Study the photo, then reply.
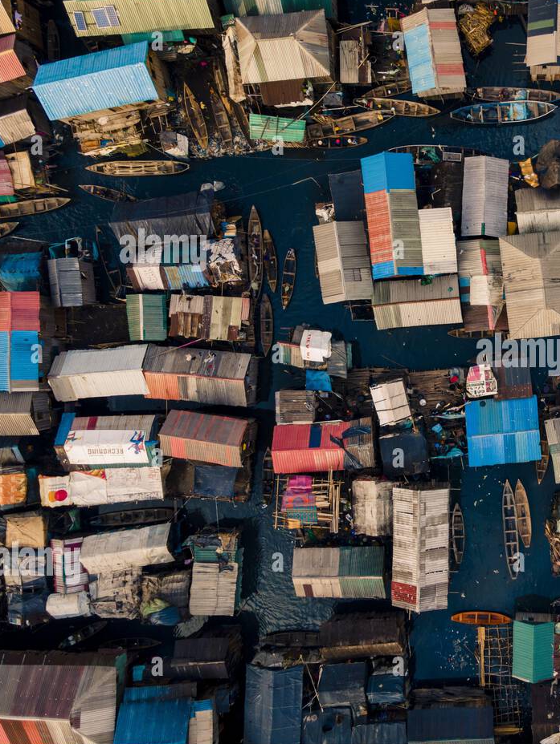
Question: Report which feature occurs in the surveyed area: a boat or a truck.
boat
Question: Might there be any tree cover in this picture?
No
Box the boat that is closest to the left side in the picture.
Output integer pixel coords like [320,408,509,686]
[0,222,21,240]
